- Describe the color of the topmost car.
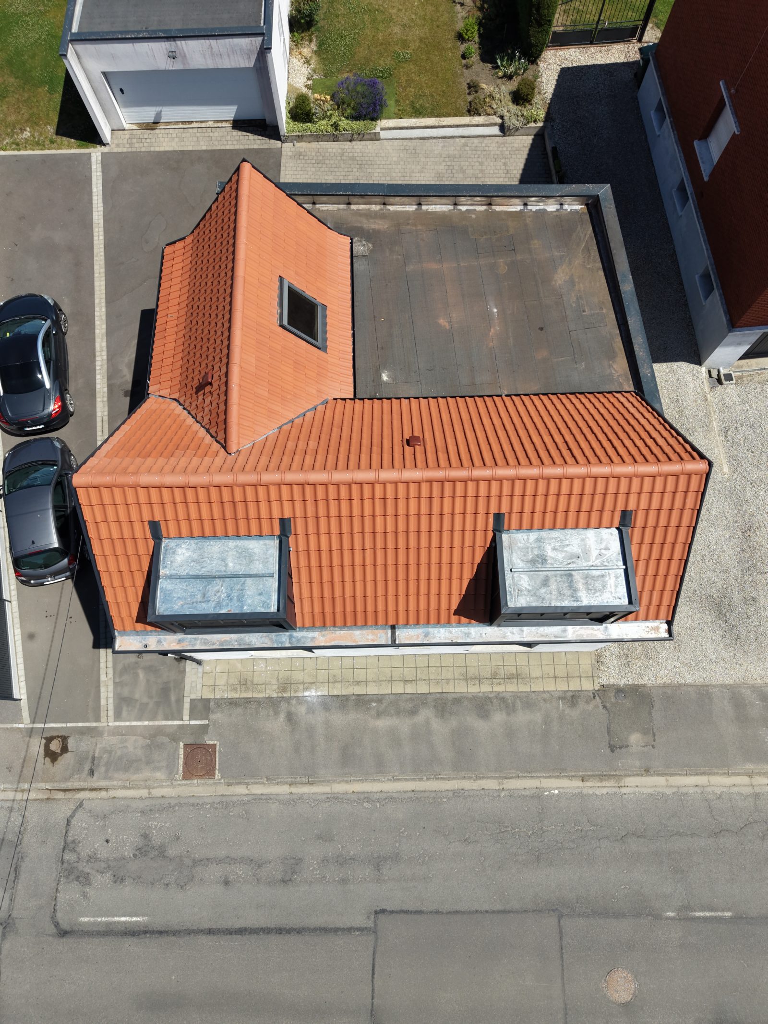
black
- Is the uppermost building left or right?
left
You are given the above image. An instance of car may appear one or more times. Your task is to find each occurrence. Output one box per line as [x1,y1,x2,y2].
[0,437,90,589]
[0,295,78,436]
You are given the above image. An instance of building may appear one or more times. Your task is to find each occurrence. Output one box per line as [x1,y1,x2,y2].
[68,154,716,665]
[61,0,284,146]
[638,0,768,367]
